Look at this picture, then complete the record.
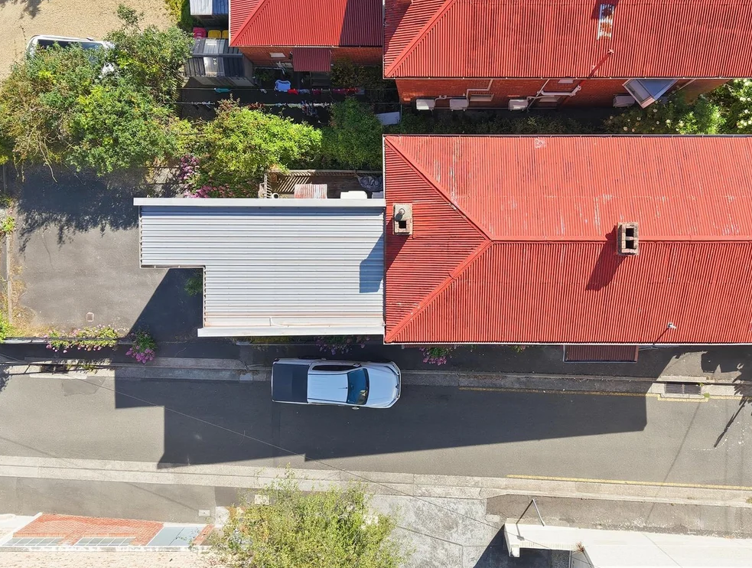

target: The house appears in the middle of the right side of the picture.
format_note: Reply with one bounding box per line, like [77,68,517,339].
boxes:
[383,133,752,367]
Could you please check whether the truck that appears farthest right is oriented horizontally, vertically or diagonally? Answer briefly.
horizontally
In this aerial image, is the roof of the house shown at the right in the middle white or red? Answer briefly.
red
